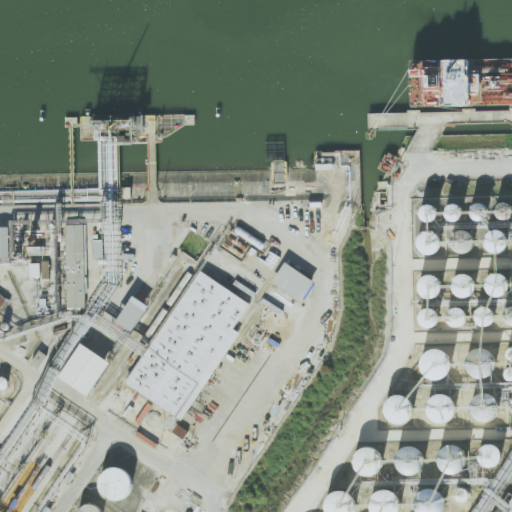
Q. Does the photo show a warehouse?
Yes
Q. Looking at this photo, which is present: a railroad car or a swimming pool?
railroad car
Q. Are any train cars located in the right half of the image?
No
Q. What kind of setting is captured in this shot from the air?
port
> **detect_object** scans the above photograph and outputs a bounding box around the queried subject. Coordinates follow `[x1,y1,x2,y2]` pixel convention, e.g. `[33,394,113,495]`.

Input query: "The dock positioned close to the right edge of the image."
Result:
[368,110,512,154]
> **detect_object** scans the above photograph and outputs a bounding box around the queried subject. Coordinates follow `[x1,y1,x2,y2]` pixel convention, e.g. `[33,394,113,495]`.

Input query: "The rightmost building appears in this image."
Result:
[370,182,392,209]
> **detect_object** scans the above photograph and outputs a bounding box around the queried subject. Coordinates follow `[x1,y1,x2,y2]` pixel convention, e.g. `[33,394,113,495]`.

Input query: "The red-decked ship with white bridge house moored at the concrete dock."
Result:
[408,60,512,108]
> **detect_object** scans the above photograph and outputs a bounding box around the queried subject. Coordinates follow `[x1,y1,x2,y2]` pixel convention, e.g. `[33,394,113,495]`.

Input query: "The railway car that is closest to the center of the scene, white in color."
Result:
[165,272,193,306]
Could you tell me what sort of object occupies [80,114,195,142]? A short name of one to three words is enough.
pier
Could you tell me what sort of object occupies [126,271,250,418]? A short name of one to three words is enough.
warehouse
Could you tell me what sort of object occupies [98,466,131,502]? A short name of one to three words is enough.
storage tank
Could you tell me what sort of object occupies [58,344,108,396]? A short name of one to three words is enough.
building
